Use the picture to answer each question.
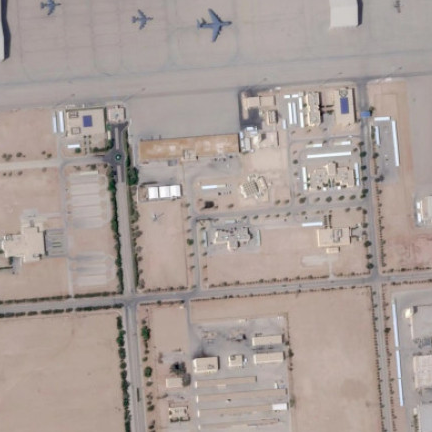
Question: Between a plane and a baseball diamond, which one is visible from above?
plane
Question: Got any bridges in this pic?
No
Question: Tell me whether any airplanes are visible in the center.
No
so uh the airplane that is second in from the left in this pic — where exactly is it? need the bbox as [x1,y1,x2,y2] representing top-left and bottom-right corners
[132,9,152,29]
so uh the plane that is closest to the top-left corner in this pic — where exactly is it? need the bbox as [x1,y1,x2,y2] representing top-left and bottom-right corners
[40,0,60,15]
